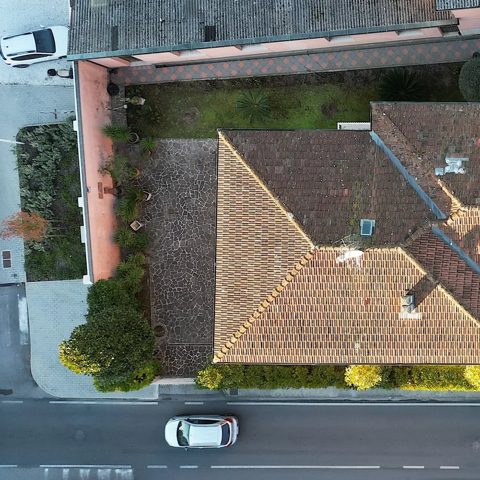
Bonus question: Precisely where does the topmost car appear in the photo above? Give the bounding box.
[0,23,79,70]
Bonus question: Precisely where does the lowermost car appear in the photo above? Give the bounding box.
[167,412,242,452]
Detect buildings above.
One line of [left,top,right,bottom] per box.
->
[210,100,480,367]
[67,0,465,67]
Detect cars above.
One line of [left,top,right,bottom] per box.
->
[167,412,242,452]
[0,23,79,70]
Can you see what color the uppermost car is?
white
